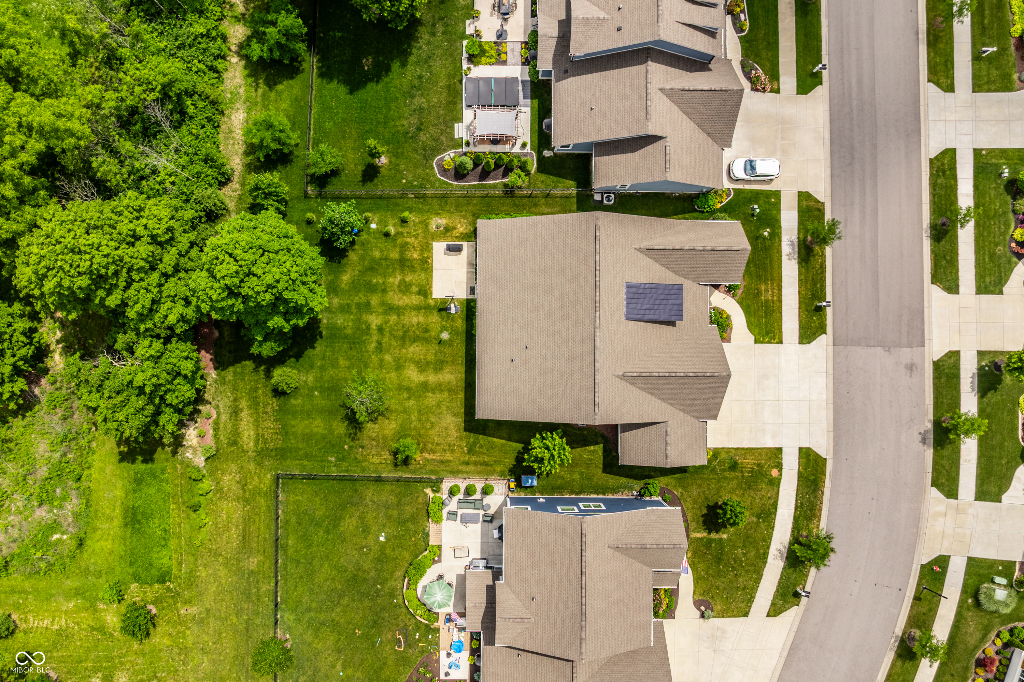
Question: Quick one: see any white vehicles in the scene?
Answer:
Yes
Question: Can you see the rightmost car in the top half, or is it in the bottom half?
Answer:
top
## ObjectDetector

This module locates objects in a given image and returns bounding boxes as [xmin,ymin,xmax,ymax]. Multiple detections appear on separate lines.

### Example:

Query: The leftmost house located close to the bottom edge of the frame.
[465,496,688,682]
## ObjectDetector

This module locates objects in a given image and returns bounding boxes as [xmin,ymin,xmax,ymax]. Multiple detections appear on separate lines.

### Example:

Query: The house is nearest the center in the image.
[475,211,752,468]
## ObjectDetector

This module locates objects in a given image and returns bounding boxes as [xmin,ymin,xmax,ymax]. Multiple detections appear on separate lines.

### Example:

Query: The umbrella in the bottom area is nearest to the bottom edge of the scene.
[423,580,454,610]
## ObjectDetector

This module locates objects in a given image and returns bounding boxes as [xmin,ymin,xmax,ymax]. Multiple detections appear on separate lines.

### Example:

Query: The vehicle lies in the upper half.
[727,155,781,182]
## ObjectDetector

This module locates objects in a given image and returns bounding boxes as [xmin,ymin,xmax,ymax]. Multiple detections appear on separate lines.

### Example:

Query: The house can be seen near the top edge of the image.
[536,0,744,193]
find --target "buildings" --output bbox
[475,211,752,468]
[465,496,688,682]
[1005,646,1024,682]
[536,0,744,193]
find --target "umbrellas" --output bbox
[423,580,454,610]
[496,18,507,39]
